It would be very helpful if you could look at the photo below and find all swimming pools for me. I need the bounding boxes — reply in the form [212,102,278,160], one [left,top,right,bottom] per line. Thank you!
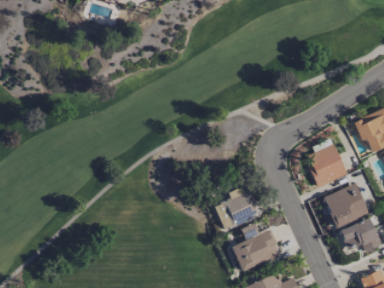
[374,160,384,178]
[89,4,111,18]
[352,132,368,153]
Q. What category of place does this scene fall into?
golf course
